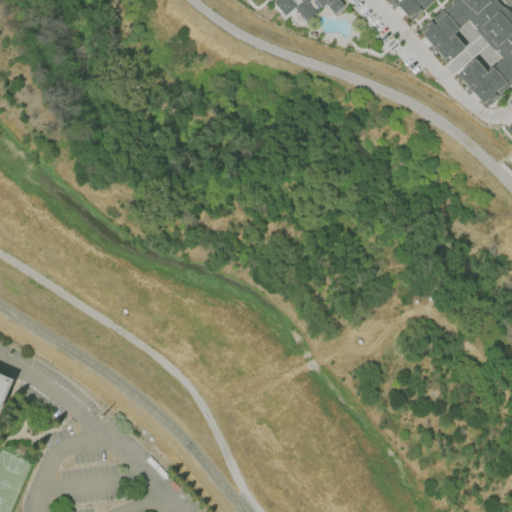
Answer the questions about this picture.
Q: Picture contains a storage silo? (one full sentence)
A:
No, no storage silo is visible in the view.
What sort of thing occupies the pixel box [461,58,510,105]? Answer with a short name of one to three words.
building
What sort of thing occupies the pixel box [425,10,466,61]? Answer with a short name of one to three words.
building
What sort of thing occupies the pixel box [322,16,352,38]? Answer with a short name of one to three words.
swimming pool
